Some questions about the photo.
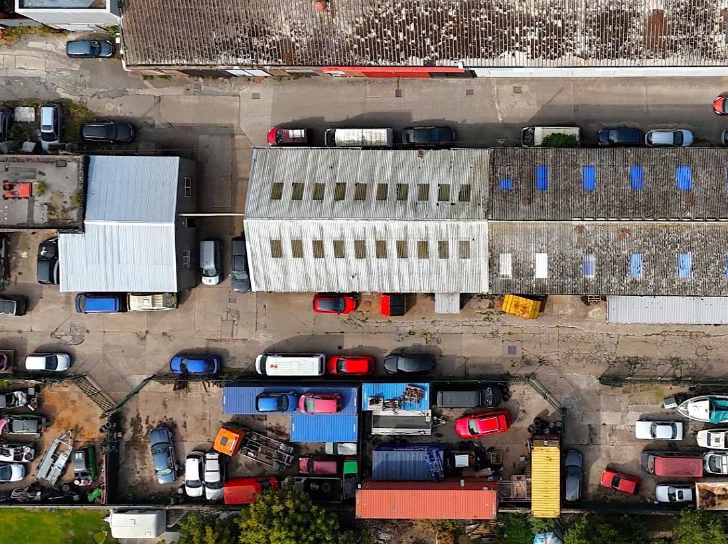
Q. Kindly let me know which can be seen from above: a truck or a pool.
truck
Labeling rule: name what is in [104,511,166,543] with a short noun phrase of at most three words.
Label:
camper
